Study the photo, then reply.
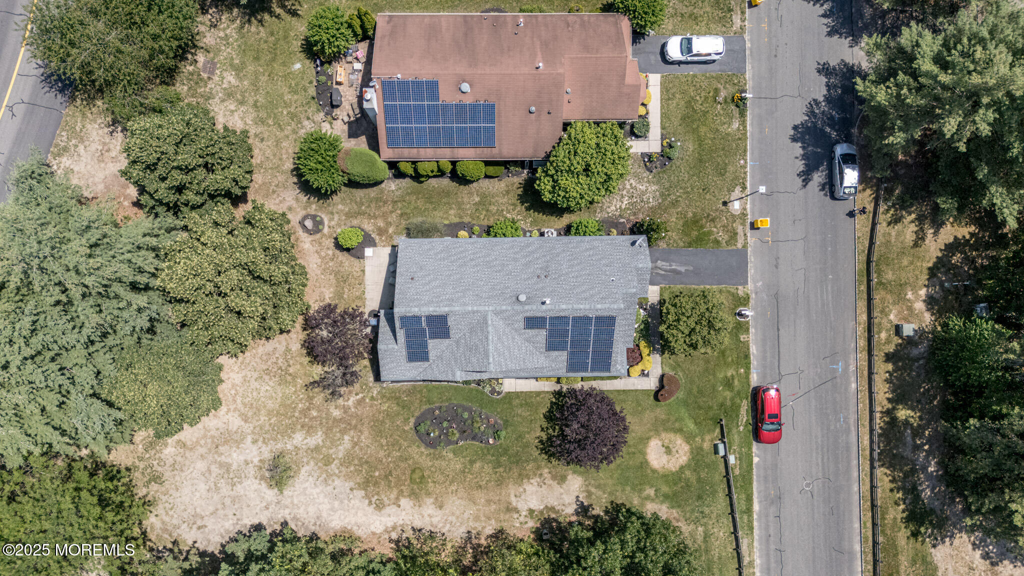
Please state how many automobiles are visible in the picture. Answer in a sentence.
My tally gives 3 automobiles in this view.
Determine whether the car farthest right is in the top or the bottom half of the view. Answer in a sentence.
The top half of the photo is where the car farthest right is.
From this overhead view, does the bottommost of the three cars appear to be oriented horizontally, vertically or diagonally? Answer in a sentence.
What the image shows is the bottommost of the three cars lying vertically.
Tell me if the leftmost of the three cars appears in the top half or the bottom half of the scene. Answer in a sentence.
It is in the top half that the leftmost of the three cars appears.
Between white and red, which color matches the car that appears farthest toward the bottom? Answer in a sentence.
The car that appears farthest toward the bottom looks red in the image.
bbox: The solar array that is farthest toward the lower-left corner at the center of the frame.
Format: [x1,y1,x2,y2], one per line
[399,314,450,362]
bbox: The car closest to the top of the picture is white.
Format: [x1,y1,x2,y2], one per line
[664,31,726,63]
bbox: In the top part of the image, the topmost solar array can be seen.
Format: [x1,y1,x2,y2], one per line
[382,78,496,147]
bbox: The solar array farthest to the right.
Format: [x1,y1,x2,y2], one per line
[524,314,616,373]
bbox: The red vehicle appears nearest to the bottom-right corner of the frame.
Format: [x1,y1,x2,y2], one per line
[754,385,786,444]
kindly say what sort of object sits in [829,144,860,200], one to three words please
car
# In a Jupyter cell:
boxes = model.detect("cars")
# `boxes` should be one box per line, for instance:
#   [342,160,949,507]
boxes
[664,31,726,63]
[829,144,860,200]
[754,385,786,444]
